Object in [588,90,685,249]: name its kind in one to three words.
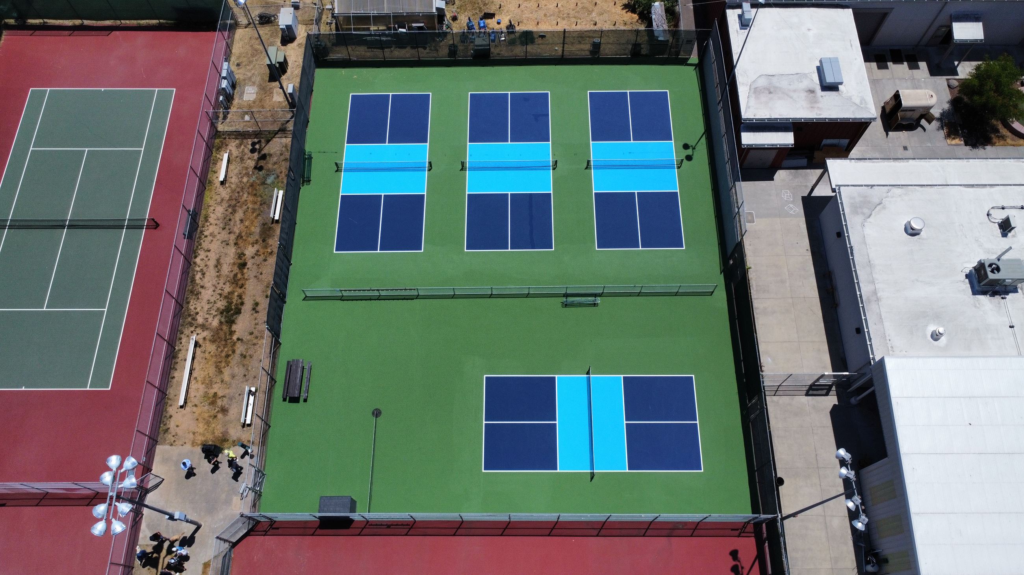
sports court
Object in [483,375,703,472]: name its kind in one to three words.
sports court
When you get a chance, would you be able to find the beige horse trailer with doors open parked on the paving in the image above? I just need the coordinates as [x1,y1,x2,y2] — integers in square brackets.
[876,90,940,128]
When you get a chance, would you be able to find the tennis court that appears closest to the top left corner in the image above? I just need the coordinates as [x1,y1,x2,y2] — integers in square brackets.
[0,88,175,390]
